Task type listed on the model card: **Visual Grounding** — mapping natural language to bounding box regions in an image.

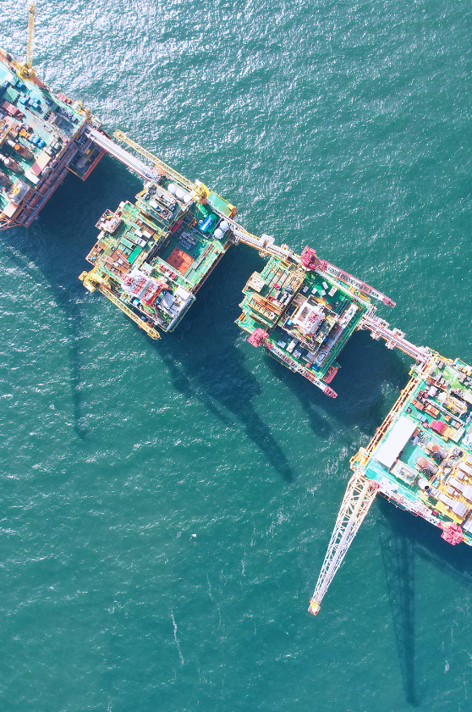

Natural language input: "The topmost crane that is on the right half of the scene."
[292,247,397,309]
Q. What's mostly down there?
water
